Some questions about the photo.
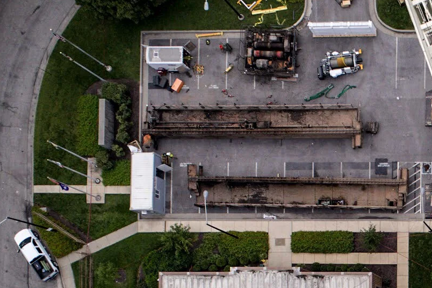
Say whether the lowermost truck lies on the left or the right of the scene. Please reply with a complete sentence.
The lowermost truck sits on the left side.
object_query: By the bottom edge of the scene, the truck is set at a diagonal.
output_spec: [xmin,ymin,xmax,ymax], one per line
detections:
[15,226,61,282]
